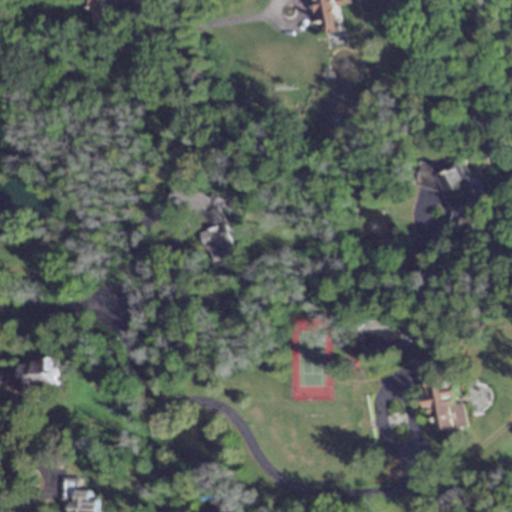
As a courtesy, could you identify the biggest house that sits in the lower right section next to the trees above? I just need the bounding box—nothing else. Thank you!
[422,381,472,430]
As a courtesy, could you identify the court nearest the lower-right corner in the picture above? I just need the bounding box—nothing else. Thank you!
[292,318,334,400]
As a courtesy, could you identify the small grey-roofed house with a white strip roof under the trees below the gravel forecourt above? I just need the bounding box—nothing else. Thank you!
[202,203,236,262]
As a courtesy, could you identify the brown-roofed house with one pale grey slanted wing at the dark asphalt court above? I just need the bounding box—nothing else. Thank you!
[417,162,472,196]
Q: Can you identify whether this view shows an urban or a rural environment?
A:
rural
